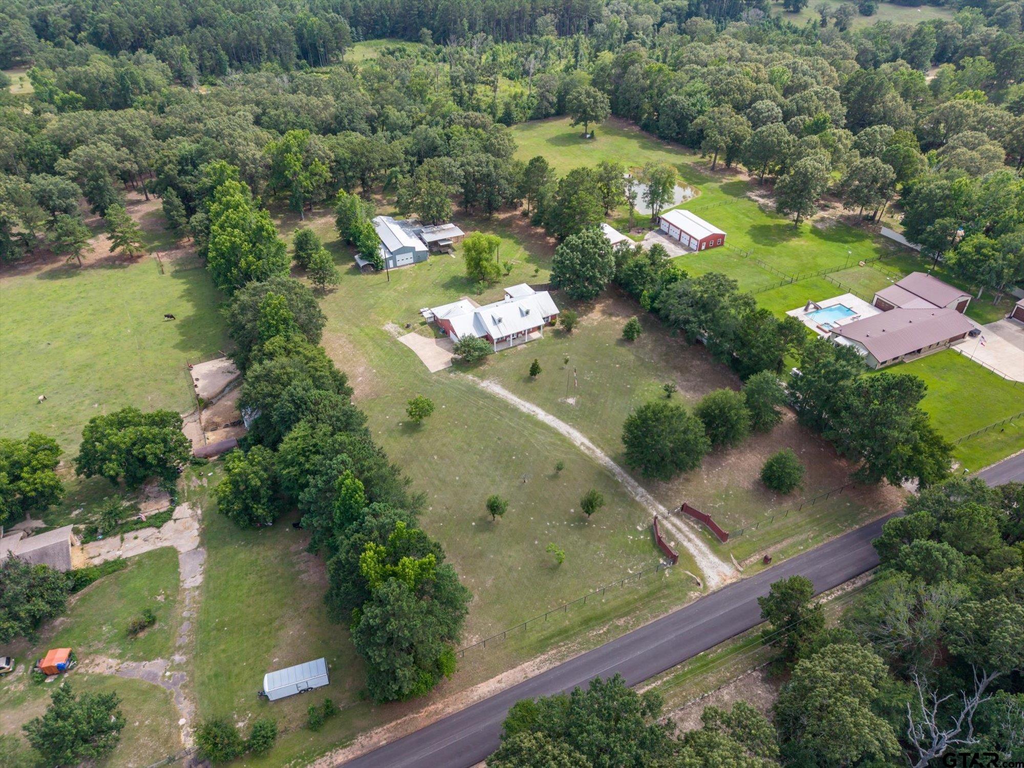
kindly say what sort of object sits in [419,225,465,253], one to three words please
shed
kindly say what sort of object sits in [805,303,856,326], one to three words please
swimming pool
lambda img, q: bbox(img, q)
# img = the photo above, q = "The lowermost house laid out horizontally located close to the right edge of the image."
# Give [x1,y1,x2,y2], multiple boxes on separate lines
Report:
[826,307,975,368]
